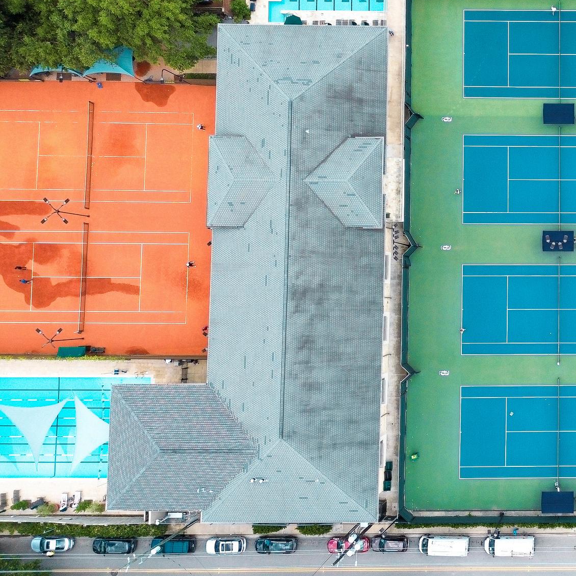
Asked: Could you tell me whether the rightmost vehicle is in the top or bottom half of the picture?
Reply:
bottom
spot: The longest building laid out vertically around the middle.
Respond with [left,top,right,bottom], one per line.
[197,24,397,523]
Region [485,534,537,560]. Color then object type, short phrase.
white vehicle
